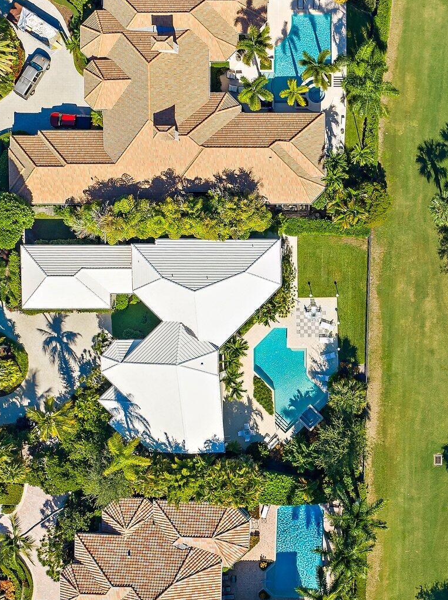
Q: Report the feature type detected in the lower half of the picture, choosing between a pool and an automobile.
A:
pool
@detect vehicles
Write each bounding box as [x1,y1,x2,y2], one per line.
[14,51,53,102]
[49,111,92,130]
